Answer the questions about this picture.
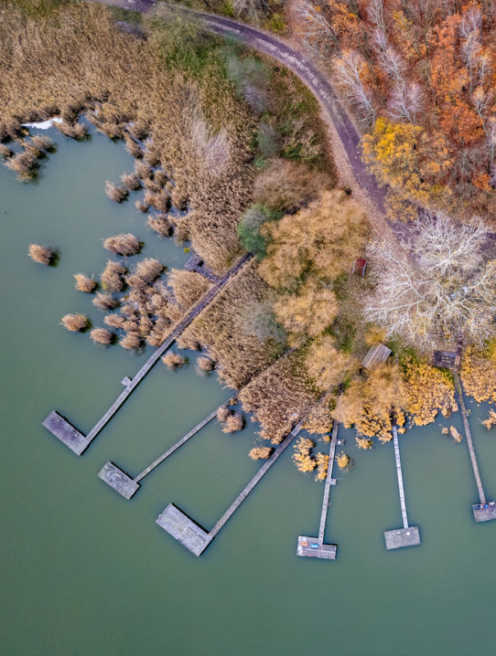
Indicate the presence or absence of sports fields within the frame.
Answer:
No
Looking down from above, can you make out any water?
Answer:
Yes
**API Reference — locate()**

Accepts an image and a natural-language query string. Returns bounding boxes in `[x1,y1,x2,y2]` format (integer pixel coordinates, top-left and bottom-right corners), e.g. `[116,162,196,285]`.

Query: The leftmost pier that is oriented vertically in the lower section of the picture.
[297,406,346,560]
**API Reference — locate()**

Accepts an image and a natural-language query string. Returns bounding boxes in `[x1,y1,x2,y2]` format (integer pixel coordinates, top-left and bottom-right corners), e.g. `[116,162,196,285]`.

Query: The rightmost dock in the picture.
[453,370,496,522]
